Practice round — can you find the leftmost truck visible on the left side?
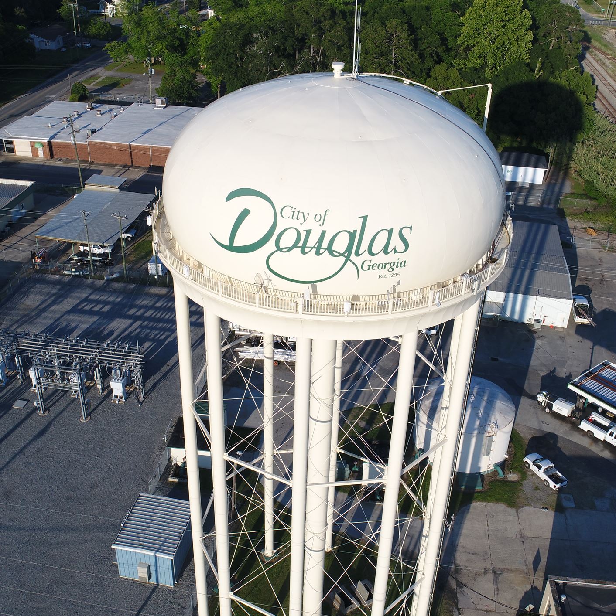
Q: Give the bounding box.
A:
[30,239,58,266]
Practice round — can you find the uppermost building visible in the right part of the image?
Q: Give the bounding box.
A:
[503,154,548,186]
